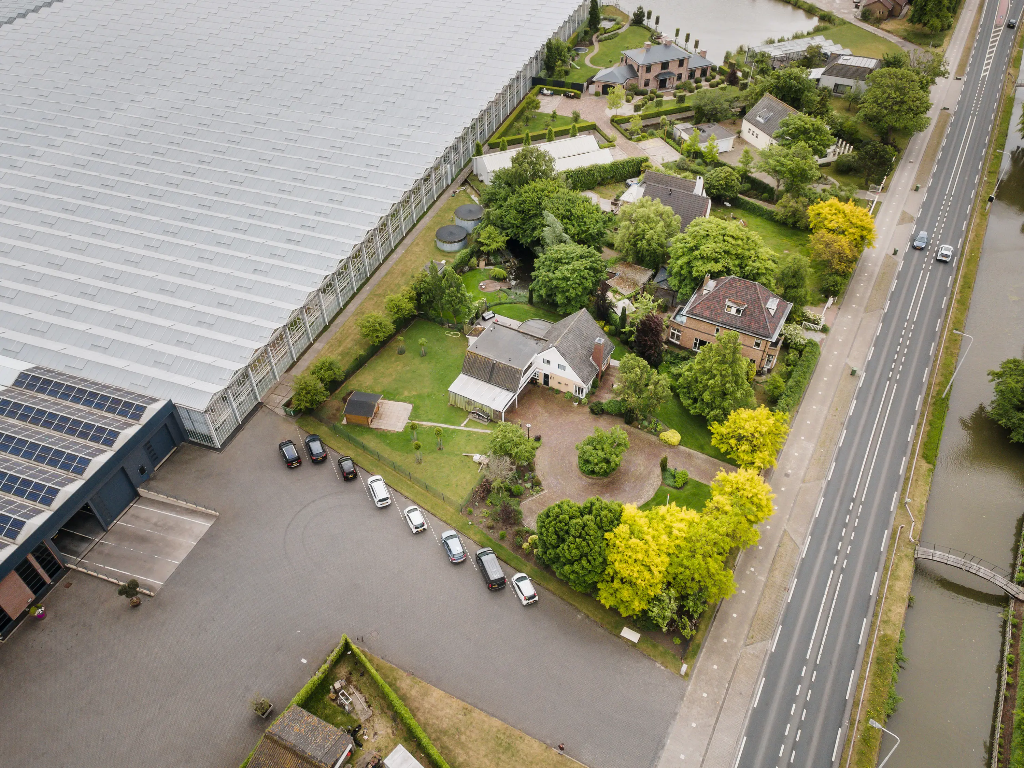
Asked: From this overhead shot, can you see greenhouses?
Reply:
Yes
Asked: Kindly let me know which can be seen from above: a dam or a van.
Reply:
van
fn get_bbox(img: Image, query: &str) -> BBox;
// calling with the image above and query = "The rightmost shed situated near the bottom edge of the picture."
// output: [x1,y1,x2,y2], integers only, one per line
[250,705,355,768]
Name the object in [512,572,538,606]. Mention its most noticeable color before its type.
white car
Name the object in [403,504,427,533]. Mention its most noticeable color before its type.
white car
